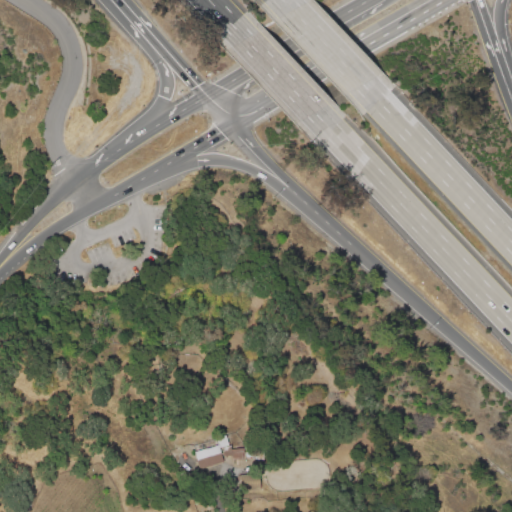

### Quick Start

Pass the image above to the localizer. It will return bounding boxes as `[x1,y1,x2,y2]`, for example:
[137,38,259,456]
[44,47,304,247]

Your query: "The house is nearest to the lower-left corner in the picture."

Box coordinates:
[195,446,224,468]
